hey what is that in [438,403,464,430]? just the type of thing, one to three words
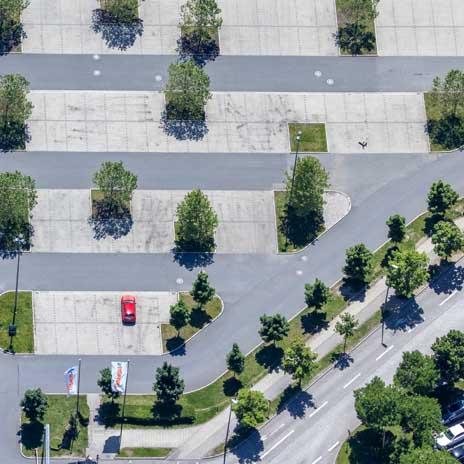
car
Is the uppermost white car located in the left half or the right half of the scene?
right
